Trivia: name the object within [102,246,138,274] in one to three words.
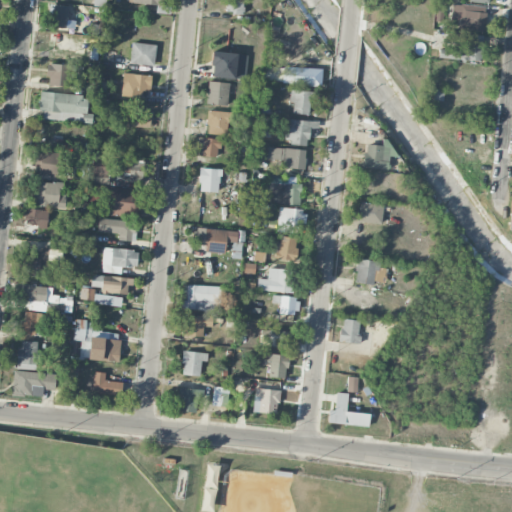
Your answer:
house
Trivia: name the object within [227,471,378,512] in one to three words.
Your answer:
baseball field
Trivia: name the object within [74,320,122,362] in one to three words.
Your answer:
house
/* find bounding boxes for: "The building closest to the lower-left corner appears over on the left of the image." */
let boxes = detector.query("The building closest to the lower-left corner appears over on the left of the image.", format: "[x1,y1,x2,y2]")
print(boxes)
[11,372,56,397]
